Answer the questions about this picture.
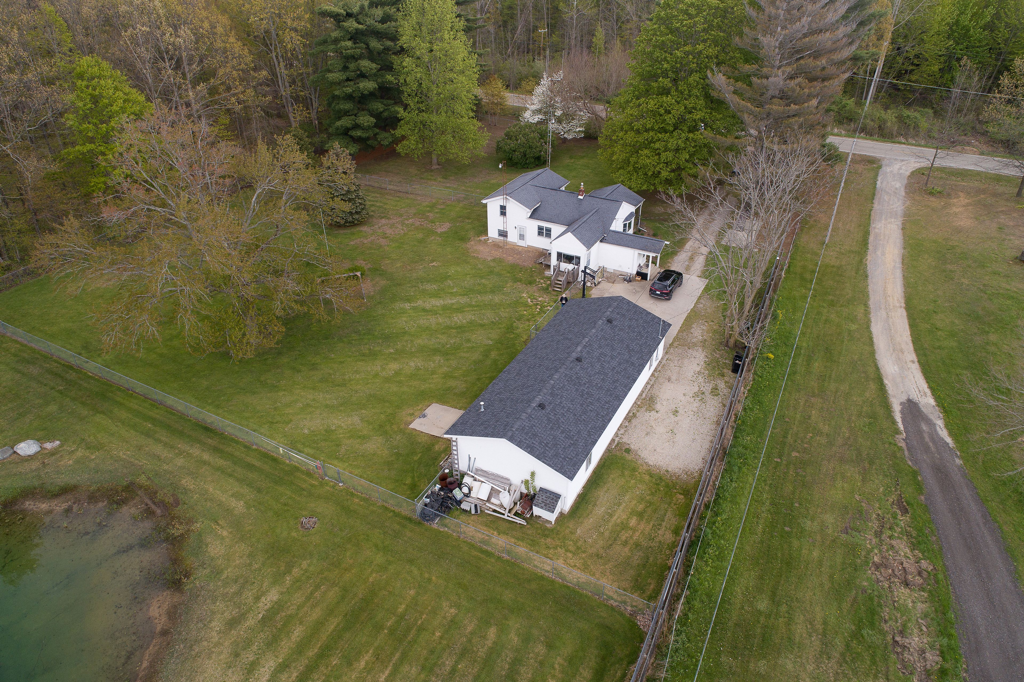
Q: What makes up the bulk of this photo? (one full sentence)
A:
What you mostly see from above here is grass.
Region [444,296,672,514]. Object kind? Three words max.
building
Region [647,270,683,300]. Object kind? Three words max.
car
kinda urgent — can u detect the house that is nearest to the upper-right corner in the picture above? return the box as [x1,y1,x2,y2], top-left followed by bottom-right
[476,167,672,281]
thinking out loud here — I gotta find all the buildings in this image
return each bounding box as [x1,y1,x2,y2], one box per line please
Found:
[444,296,672,514]
[476,167,672,281]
